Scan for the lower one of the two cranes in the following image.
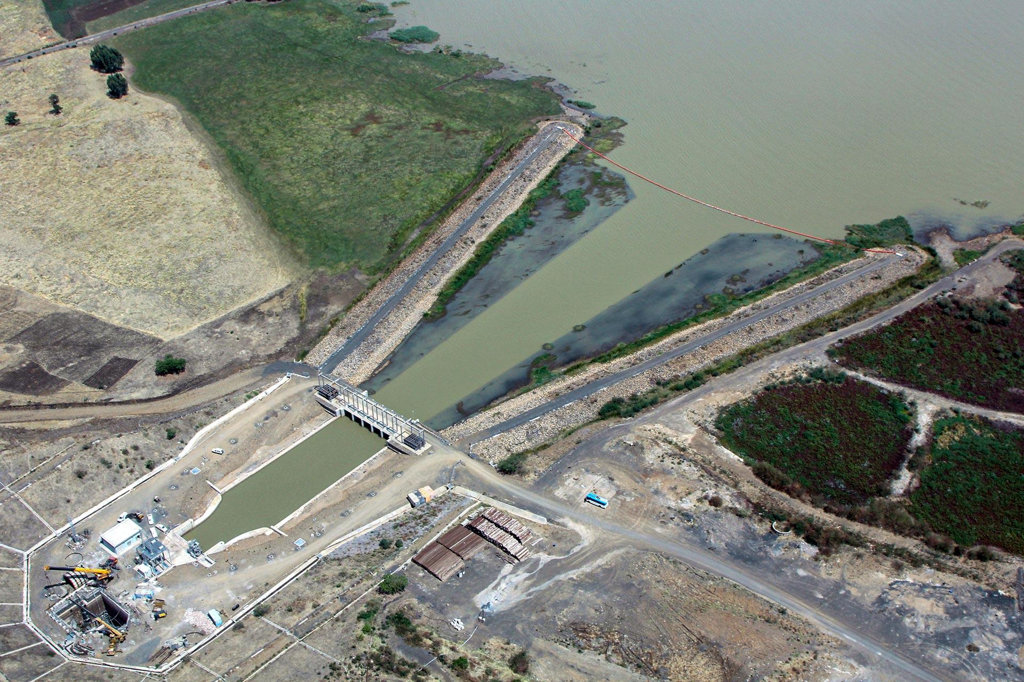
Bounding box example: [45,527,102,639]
[66,596,131,654]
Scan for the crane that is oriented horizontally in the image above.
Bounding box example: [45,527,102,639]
[44,554,117,585]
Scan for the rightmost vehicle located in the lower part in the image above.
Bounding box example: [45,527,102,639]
[584,491,609,505]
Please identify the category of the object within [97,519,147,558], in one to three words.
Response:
building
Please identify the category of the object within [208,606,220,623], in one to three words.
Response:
vehicle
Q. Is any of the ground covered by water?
Yes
